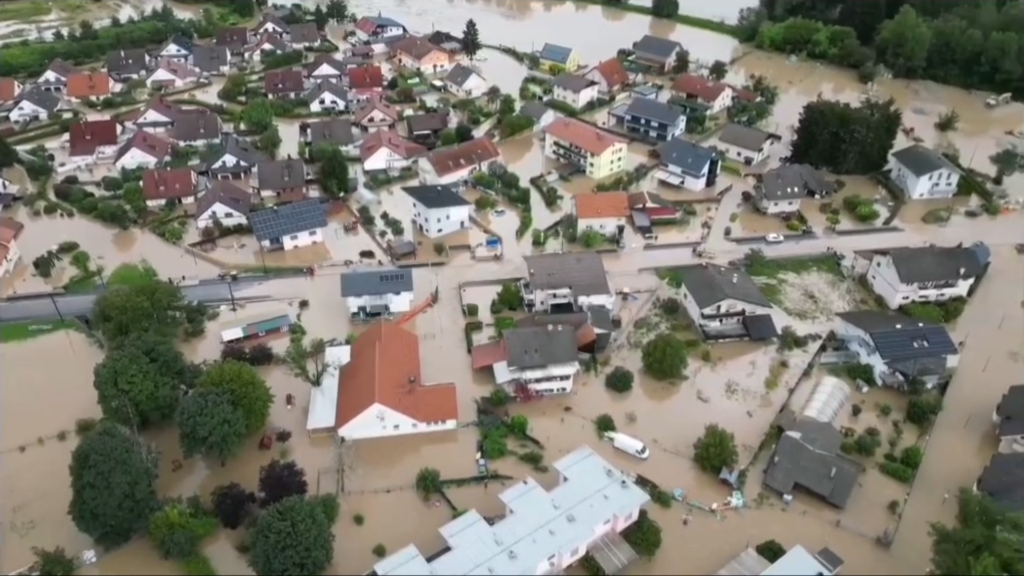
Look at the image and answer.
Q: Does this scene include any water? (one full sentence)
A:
Yes, water shows up in the scene.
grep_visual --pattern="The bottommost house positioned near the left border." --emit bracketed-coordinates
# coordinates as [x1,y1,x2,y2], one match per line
[0,226,35,293]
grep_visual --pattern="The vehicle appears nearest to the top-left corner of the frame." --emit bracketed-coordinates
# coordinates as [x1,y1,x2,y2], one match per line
[218,267,240,280]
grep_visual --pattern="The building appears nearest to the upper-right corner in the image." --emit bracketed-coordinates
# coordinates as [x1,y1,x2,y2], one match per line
[889,145,963,202]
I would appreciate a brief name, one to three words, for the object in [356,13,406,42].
house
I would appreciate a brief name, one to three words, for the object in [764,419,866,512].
house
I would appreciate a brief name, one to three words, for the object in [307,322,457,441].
building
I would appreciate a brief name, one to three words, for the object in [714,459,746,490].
shed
